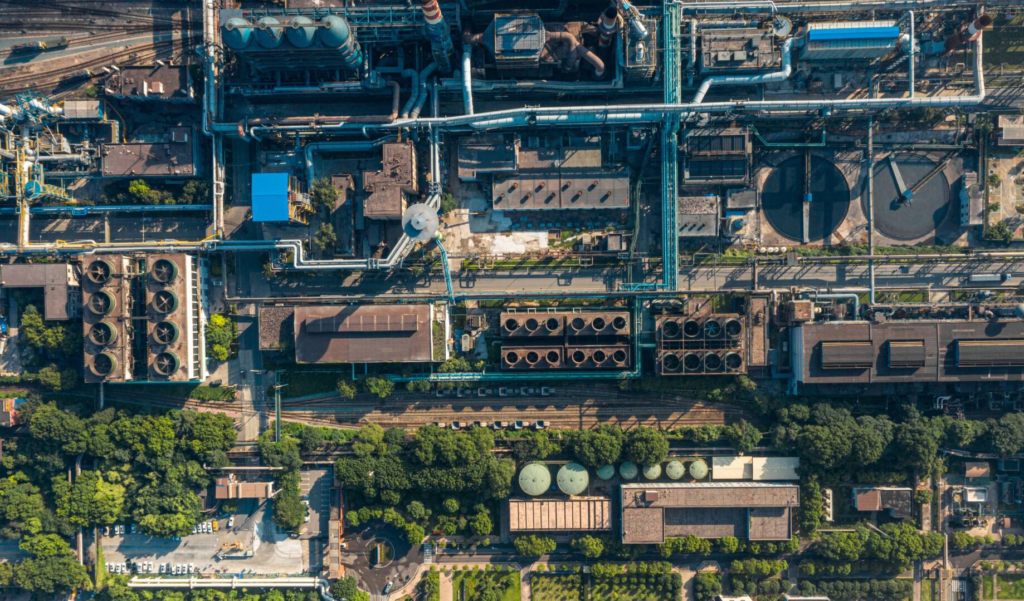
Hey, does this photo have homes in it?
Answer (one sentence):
Yes, this view includes a home.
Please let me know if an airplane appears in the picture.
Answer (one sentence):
No, the picture doesn't show any airplane.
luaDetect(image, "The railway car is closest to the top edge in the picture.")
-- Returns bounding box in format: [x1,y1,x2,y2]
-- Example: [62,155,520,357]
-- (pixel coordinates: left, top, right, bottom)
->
[11,37,69,54]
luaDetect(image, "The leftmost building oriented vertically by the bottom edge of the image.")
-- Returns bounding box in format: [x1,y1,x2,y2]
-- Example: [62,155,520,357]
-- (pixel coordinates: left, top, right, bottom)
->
[329,467,346,578]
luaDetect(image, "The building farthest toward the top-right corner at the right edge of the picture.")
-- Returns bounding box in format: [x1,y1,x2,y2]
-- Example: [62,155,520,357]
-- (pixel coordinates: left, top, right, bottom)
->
[990,116,1024,147]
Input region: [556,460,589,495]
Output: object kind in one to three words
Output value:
storage tank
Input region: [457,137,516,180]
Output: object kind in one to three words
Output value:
building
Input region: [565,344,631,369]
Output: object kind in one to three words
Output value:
cooling tower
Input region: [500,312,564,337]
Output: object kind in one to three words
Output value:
cooling tower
